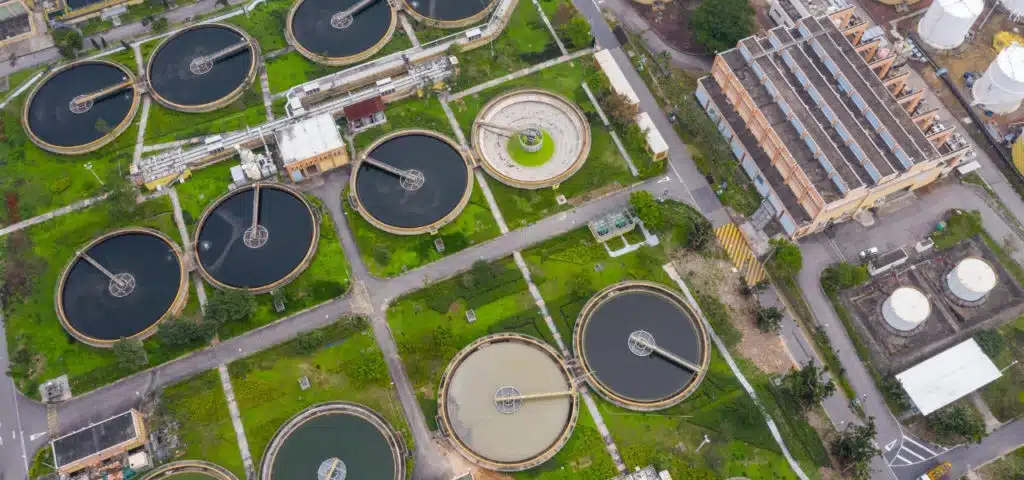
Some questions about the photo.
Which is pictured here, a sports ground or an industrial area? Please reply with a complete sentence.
The area seen from above is an industrial area.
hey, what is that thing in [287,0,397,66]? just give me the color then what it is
black storage tank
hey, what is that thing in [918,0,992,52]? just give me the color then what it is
white storage tank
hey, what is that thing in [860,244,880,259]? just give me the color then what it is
white car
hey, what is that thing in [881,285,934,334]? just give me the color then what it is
white storage tank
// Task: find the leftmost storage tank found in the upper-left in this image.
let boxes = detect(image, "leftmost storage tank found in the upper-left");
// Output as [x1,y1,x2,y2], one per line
[23,59,143,155]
